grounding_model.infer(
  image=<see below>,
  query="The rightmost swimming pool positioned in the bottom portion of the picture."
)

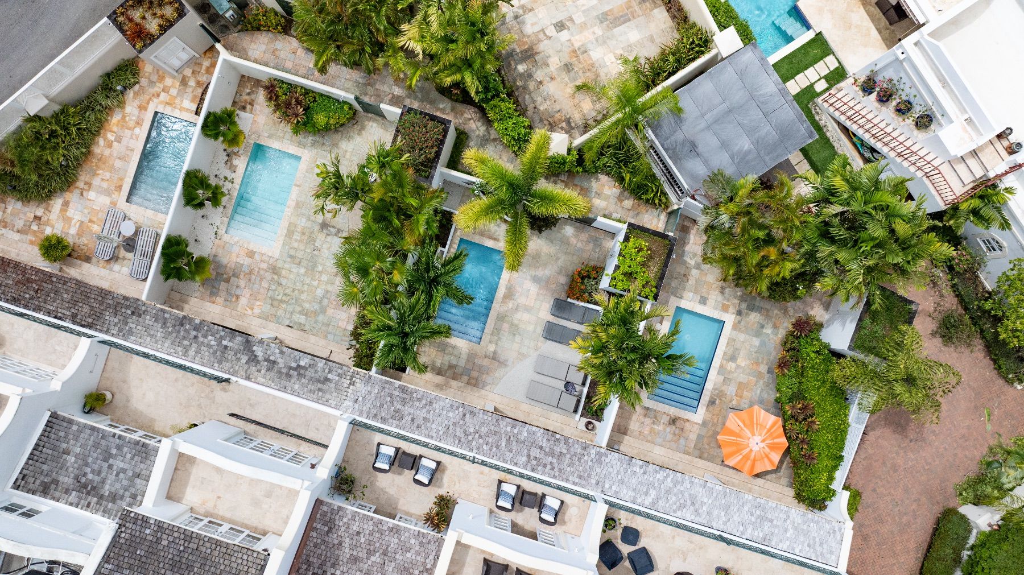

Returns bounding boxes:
[635,293,738,427]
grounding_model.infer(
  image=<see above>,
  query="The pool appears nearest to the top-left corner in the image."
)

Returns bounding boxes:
[113,99,201,226]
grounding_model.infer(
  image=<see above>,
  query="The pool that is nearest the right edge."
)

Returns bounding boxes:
[725,0,825,66]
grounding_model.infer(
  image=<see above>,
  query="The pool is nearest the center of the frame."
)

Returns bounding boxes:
[423,226,517,357]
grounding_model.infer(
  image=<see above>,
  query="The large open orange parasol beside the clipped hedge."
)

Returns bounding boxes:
[715,403,788,475]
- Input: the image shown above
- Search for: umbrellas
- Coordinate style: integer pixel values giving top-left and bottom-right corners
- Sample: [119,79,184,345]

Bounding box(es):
[93,237,136,252]
[715,403,788,475]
